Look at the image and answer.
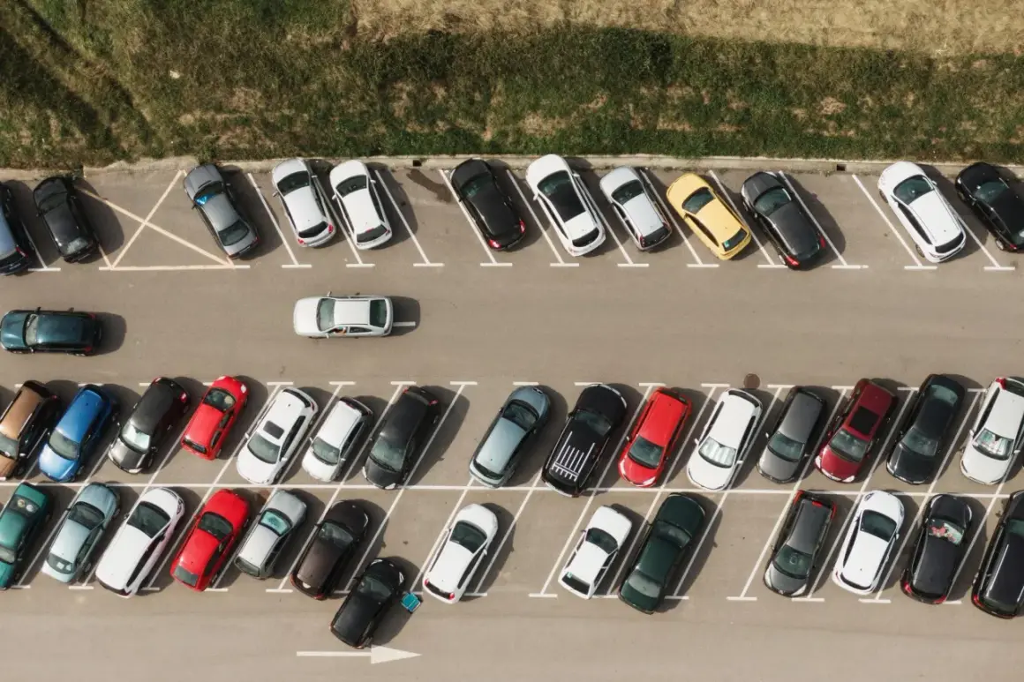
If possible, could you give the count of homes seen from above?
none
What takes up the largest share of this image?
paved ground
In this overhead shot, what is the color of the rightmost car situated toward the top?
black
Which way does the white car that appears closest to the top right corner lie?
on a diagonal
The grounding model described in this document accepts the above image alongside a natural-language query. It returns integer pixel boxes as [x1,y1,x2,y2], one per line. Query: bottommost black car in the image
[330,559,401,648]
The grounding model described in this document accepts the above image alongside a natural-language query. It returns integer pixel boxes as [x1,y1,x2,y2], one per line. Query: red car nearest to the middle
[622,389,692,486]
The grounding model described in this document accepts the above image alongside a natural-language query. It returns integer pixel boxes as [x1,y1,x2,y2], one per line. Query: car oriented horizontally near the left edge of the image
[0,307,102,358]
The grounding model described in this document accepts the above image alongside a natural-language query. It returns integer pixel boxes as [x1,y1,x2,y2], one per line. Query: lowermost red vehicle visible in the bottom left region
[169,490,243,589]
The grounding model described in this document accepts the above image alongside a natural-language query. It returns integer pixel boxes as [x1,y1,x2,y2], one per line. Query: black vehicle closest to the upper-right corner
[957,162,1024,256]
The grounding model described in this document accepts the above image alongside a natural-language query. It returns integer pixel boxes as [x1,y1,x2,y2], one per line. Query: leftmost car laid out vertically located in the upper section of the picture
[0,199,30,272]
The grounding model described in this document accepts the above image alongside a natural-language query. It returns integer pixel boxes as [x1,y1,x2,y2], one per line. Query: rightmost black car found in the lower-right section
[974,495,1024,616]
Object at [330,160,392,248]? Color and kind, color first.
white car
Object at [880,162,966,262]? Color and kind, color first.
white car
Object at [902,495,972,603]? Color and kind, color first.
black car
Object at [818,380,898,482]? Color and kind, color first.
red car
